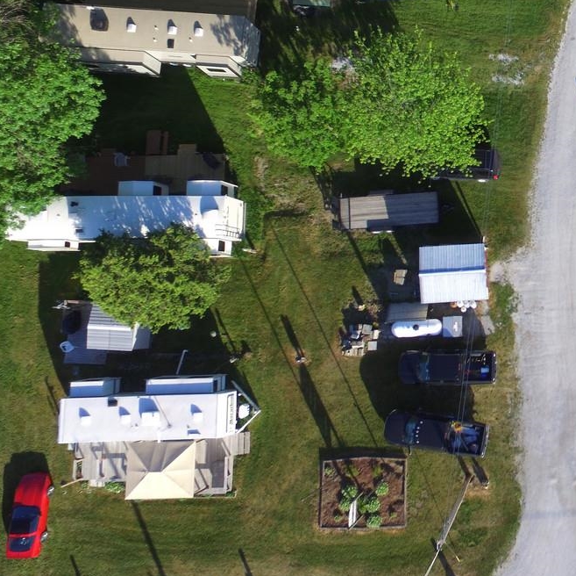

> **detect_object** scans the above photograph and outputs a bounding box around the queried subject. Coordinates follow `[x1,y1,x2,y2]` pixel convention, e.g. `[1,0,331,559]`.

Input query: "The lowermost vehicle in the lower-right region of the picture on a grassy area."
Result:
[384,409,493,458]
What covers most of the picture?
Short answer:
grass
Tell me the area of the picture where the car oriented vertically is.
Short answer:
bottom left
